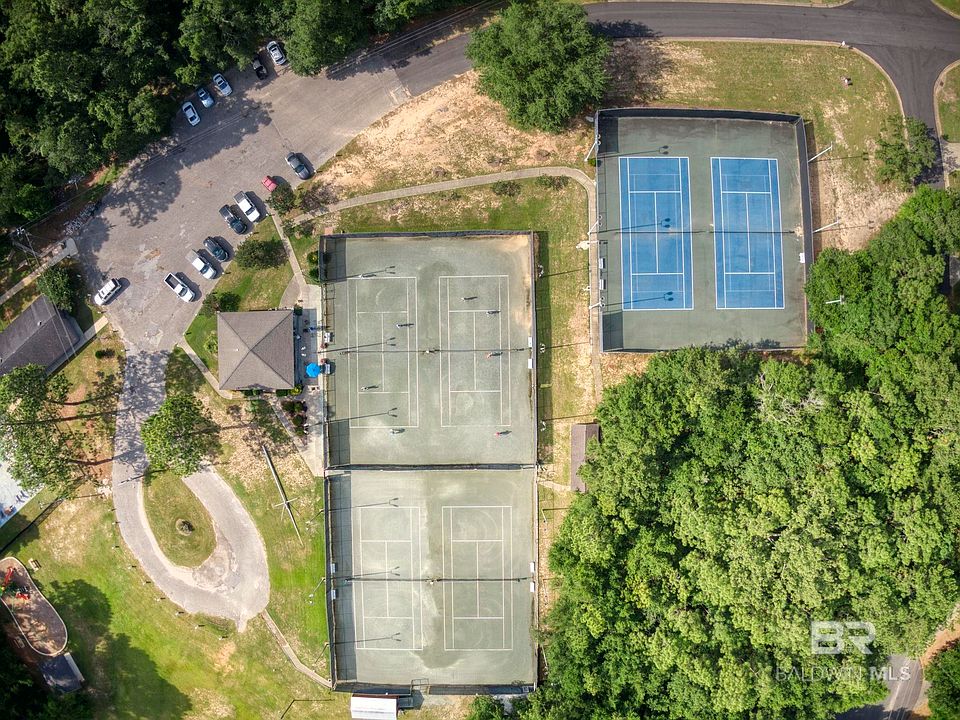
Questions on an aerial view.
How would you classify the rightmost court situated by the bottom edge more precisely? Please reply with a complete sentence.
What you see as the rightmost court situated by the bottom edge is a tennis court.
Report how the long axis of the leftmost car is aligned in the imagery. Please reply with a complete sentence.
What the image shows is the leftmost car lying on a diagonal.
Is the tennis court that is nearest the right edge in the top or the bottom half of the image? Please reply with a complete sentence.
The top half of the photo is where the tennis court that is nearest the right edge is.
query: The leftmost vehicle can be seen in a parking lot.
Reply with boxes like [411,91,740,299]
[90,276,121,305]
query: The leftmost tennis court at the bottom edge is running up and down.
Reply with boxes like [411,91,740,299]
[329,469,437,684]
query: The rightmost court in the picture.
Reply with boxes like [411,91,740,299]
[699,116,807,351]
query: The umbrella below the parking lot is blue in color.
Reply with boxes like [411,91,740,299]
[307,363,322,377]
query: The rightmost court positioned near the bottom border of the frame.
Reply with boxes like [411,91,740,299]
[431,467,536,686]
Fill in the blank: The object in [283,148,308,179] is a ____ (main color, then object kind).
gray car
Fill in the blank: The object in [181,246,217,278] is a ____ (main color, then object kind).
white truck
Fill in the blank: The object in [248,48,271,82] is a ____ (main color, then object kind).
black truck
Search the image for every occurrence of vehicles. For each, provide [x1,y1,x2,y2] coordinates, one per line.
[215,200,247,235]
[90,276,121,305]
[159,269,194,304]
[199,232,229,262]
[283,148,308,179]
[248,48,271,82]
[264,38,287,68]
[181,246,217,278]
[209,68,232,98]
[194,81,215,110]
[177,97,200,128]
[231,187,260,224]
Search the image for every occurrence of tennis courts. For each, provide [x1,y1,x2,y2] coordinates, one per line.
[329,469,437,684]
[594,115,705,352]
[699,116,807,351]
[429,234,536,467]
[325,235,431,468]
[431,467,536,686]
